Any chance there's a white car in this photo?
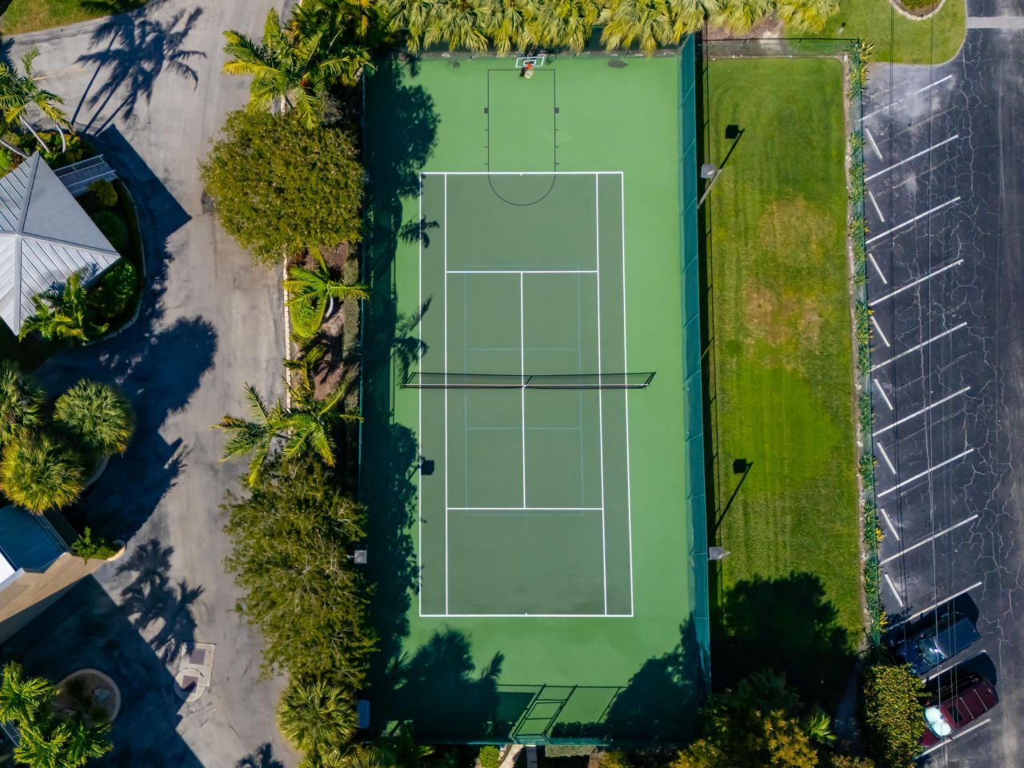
No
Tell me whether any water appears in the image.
No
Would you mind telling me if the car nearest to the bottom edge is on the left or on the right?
right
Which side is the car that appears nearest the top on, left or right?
right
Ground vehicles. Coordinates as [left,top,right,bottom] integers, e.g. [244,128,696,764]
[891,610,984,679]
[918,674,1003,749]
